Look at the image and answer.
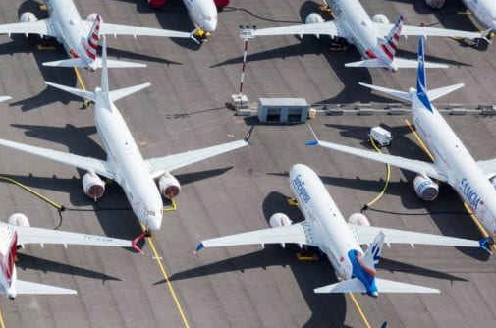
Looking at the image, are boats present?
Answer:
No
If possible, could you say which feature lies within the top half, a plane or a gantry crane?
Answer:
plane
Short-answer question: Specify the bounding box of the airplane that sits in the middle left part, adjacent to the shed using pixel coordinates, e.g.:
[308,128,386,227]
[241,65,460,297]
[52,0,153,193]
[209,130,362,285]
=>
[0,35,253,234]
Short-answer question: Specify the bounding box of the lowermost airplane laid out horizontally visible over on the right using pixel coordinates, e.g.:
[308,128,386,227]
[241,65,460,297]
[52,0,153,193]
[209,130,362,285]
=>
[197,163,493,299]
